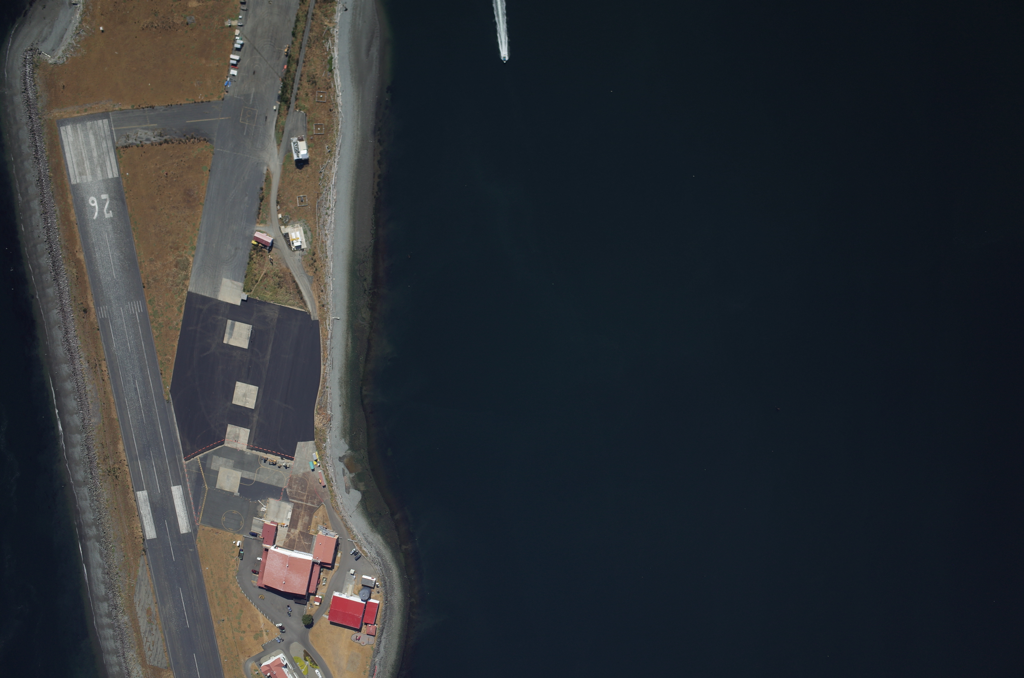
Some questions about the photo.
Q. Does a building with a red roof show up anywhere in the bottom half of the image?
Yes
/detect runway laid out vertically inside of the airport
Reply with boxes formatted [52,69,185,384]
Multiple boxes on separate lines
[57,112,224,678]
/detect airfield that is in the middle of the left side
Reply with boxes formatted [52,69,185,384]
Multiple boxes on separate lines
[57,0,330,678]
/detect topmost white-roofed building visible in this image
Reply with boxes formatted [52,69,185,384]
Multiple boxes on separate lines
[290,135,309,161]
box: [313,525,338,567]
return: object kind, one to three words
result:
building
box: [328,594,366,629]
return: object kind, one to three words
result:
building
